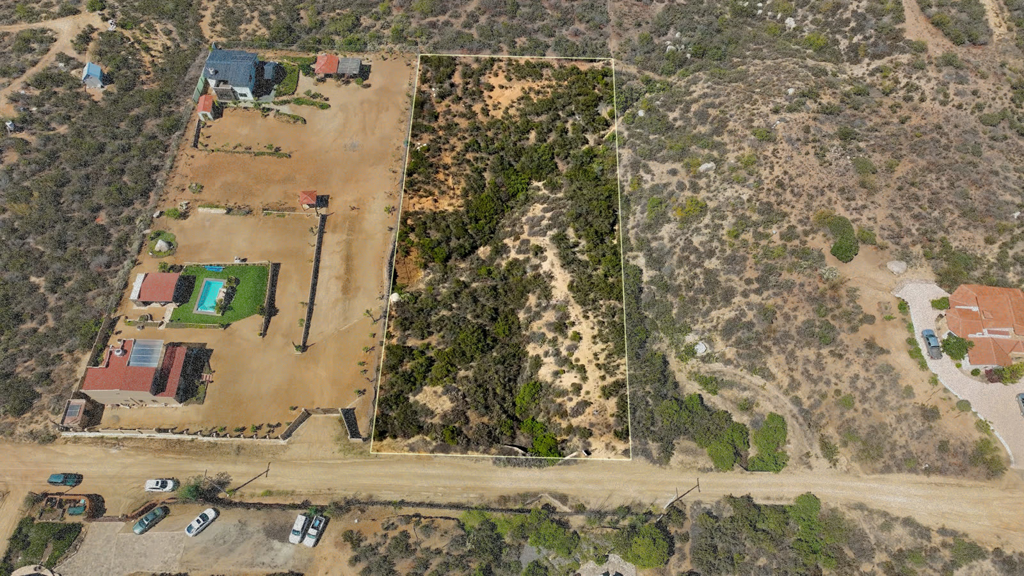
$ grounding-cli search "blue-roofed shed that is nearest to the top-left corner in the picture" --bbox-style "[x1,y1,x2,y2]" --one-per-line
[83,62,106,88]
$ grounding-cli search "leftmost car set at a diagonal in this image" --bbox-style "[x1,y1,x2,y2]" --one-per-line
[131,506,164,534]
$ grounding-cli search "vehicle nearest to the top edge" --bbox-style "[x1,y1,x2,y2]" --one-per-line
[925,328,945,358]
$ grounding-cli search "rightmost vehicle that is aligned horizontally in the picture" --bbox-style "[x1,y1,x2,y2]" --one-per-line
[141,477,175,492]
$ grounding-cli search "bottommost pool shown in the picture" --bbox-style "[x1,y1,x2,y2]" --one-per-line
[193,278,226,316]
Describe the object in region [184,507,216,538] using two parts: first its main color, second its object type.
white car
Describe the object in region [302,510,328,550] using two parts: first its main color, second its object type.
white truck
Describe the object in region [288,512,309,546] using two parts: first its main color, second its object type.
white car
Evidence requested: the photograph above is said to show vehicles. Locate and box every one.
[45,470,80,486]
[925,328,945,358]
[141,477,175,492]
[288,512,309,546]
[131,506,164,534]
[302,510,328,550]
[184,507,216,538]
